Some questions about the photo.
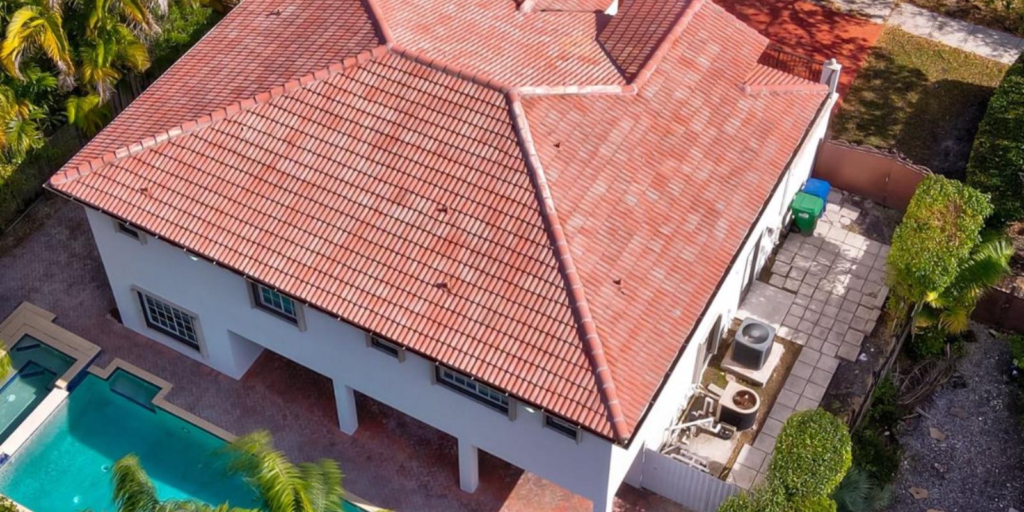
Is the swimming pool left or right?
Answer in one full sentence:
It is on the left.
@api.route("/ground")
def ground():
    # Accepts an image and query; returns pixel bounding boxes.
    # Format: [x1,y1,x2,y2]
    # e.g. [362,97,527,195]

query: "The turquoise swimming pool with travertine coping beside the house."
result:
[0,359,390,512]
